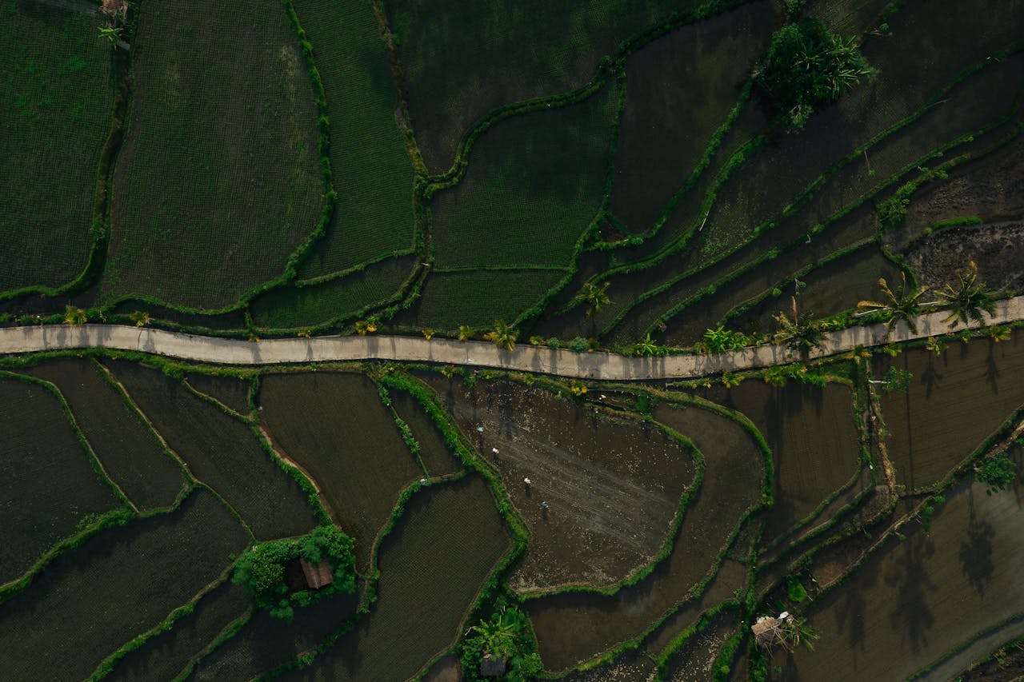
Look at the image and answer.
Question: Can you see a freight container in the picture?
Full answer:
No, there's no freight container here.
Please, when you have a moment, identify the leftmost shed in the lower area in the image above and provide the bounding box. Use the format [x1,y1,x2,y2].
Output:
[298,557,336,588]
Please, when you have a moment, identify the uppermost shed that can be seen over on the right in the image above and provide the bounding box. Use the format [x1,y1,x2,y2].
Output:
[746,615,781,650]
